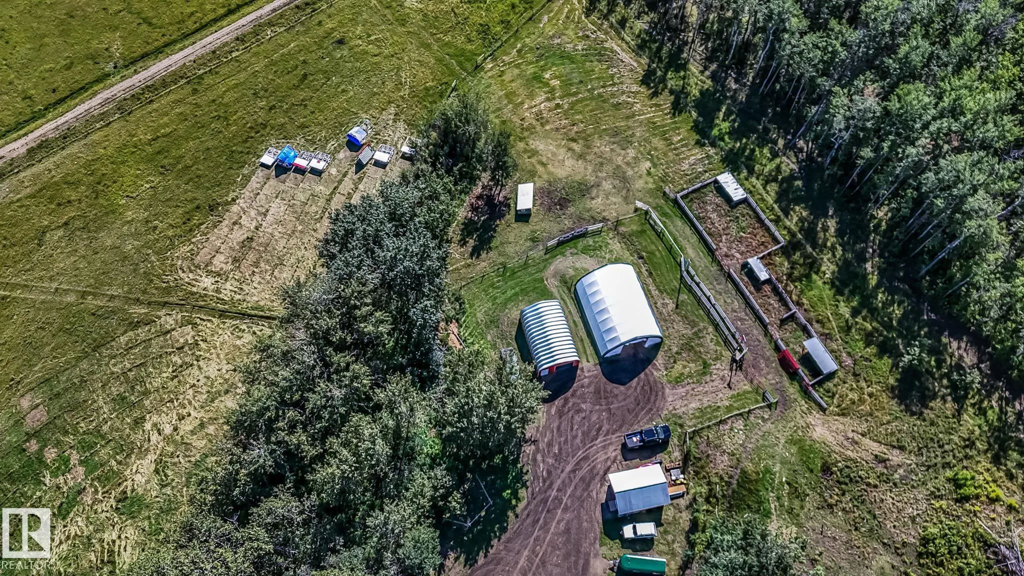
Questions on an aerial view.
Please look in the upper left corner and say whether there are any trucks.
No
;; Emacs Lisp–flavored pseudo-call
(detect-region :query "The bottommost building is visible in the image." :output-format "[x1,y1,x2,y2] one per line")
[604,463,671,516]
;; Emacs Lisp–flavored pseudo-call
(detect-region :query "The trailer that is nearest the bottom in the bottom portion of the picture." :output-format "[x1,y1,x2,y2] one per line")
[606,554,671,576]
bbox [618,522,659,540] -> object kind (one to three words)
car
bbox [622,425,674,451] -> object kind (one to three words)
truck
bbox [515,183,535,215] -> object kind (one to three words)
shed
